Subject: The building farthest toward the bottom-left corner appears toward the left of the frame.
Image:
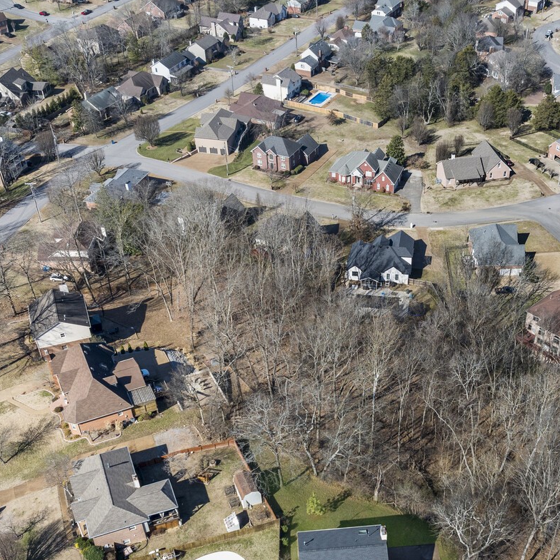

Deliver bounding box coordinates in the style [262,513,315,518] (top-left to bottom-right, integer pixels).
[66,445,182,547]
